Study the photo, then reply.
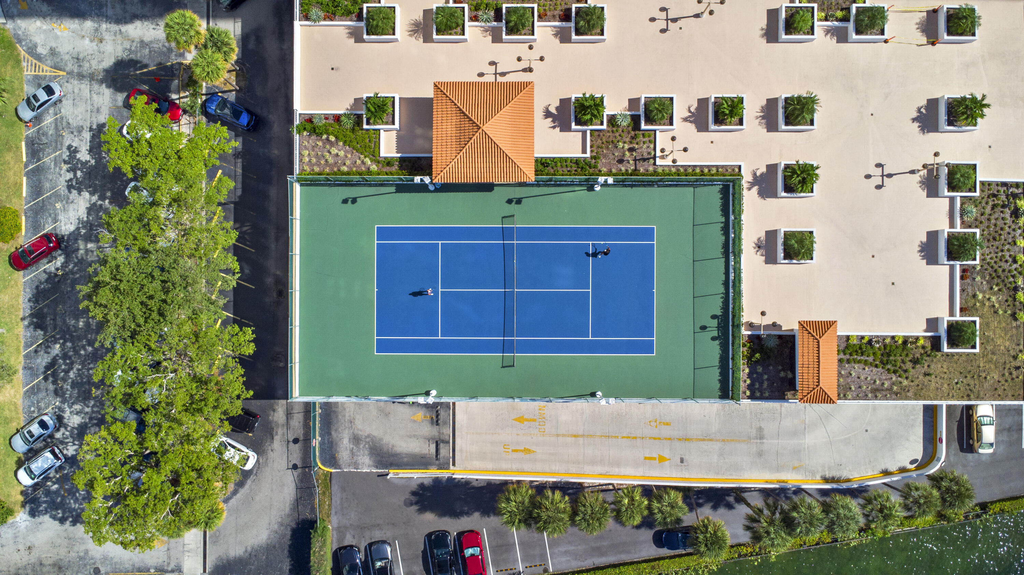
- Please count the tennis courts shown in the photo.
1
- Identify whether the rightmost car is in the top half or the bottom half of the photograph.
bottom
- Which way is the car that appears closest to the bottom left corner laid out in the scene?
diagonally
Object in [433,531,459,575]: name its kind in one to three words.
car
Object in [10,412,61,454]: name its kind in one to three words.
car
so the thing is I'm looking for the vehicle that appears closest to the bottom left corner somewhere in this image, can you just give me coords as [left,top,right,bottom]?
[16,445,67,488]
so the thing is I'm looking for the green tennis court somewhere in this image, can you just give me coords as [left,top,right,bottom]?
[300,182,730,397]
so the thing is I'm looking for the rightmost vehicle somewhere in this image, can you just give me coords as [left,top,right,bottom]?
[967,405,996,454]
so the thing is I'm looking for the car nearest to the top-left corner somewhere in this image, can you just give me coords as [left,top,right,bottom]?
[16,79,67,122]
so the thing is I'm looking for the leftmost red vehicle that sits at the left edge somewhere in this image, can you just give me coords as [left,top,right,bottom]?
[10,231,62,271]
